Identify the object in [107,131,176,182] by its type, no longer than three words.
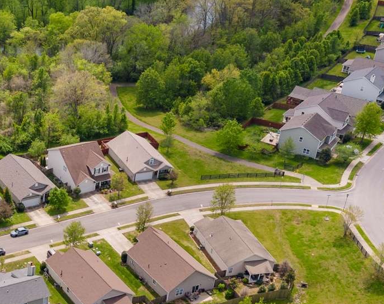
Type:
house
